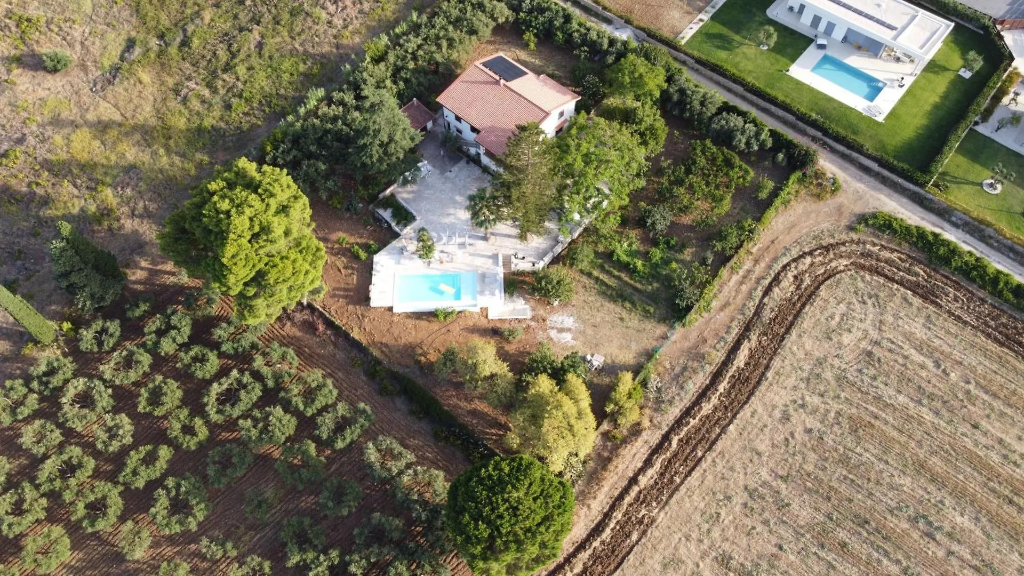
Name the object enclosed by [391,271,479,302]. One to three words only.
swimming pool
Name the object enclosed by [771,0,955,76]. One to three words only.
house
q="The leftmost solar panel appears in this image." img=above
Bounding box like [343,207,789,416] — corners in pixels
[480,57,533,81]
